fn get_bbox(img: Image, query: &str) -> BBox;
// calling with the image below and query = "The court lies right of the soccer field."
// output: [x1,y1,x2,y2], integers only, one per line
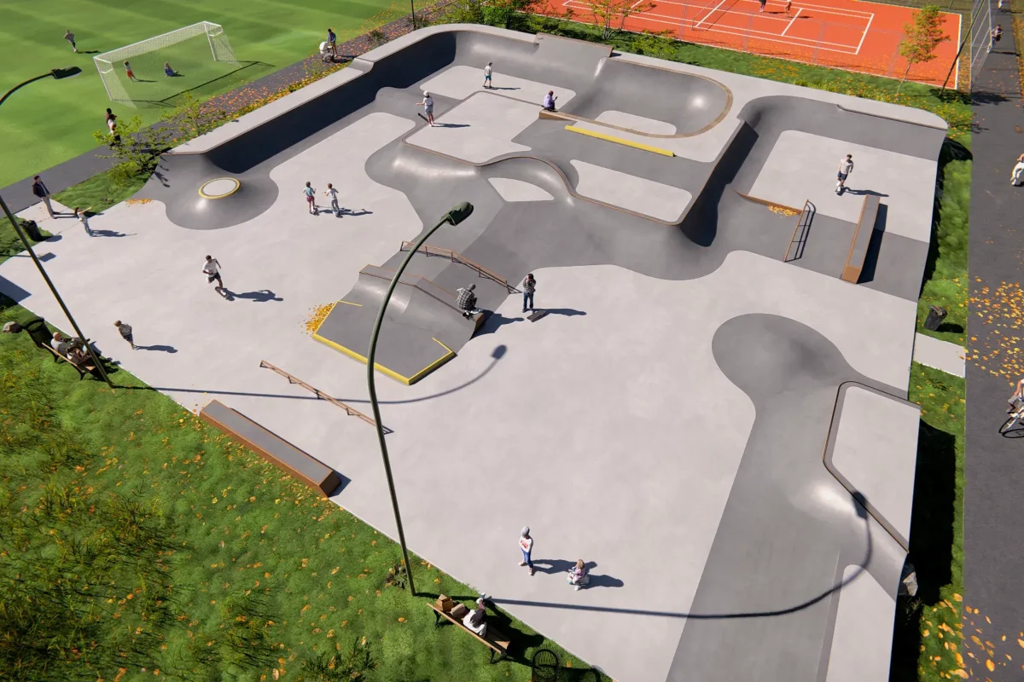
[449,0,962,89]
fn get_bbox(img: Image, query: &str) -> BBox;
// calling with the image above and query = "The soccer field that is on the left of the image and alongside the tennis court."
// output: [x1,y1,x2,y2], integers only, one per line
[0,0,424,185]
